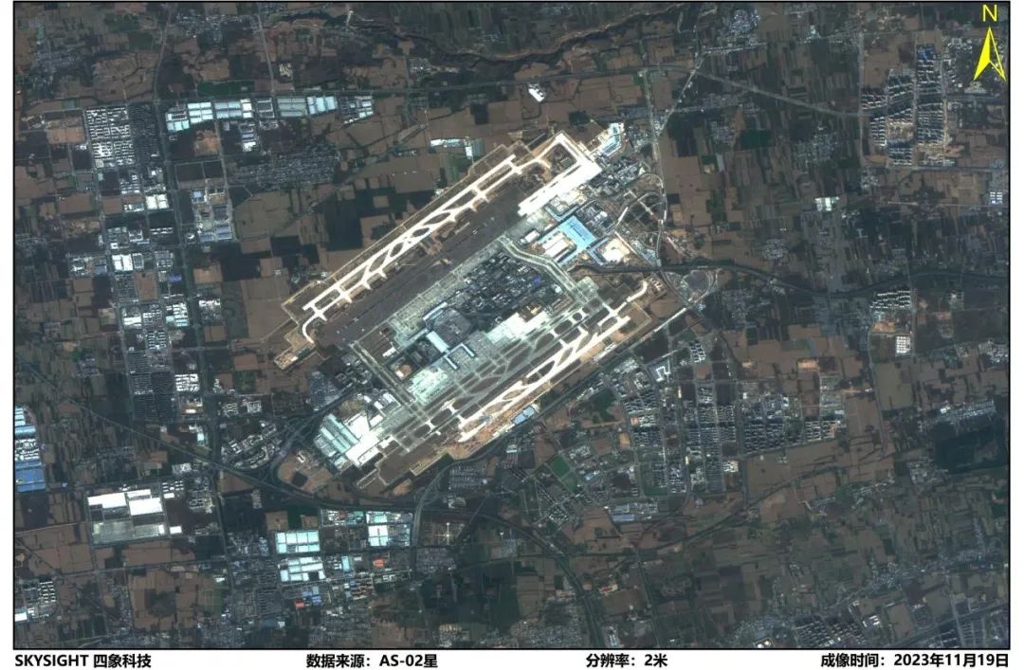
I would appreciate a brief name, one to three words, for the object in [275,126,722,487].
airport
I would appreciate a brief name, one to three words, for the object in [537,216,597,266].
building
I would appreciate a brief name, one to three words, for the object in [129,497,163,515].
building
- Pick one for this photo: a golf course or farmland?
farmland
